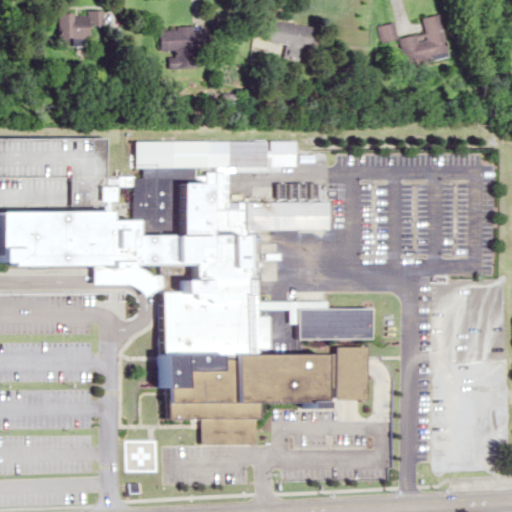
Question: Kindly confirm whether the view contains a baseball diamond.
No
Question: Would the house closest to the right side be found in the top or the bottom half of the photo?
top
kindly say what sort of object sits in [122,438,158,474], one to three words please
helipad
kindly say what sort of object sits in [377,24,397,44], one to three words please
building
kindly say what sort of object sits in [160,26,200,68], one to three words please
house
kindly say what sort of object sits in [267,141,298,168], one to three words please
building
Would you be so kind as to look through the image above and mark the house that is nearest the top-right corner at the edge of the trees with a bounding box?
[400,14,450,64]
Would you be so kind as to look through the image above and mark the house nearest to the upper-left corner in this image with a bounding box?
[58,11,103,46]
